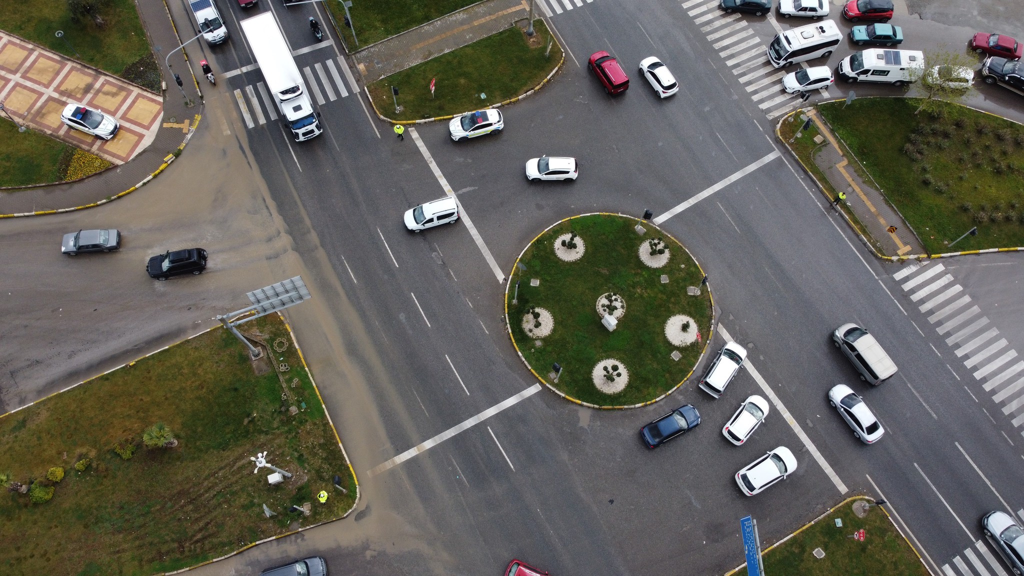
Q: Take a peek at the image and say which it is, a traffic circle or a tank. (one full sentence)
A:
This aerial view contains a traffic circle.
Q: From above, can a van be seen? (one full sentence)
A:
Yes, the image includes a van.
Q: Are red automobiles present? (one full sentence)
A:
Yes, the picture does show a red automobile.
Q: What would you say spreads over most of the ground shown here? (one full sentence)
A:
The bulk of the photo consists of paved ground.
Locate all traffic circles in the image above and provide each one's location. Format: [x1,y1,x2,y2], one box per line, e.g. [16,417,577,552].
[503,212,714,410]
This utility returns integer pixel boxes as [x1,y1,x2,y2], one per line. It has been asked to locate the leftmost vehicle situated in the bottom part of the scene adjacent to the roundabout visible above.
[639,405,702,450]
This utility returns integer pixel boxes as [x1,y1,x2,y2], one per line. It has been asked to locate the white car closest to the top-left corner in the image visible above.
[55,101,119,141]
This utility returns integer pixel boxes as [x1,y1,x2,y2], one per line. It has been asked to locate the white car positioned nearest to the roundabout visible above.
[698,340,748,400]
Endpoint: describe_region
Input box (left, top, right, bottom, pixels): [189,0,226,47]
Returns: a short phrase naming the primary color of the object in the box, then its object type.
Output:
white van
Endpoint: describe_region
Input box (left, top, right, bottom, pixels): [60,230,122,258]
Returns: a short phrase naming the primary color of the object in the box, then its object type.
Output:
gray car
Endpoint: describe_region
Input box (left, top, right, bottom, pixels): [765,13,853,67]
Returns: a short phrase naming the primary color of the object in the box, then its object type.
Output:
white vehicle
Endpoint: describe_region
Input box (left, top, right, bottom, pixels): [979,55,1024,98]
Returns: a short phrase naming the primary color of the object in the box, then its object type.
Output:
black truck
